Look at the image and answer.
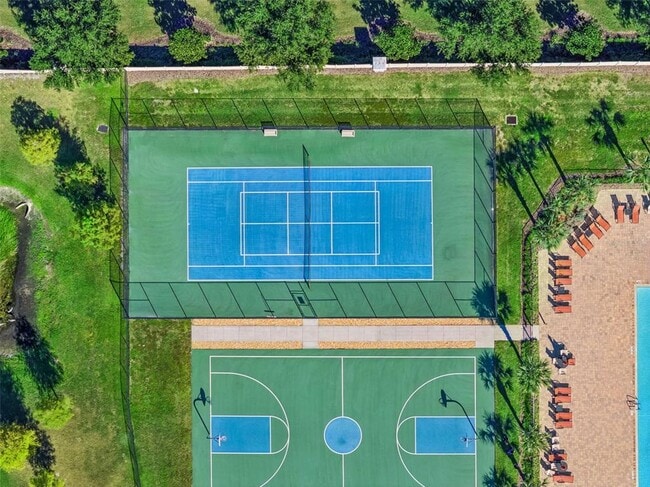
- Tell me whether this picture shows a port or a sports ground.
sports ground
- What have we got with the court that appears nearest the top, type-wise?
tennis court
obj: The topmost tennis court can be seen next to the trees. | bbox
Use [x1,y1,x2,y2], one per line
[128,130,493,317]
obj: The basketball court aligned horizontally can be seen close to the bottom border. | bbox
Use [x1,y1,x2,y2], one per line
[192,349,494,487]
